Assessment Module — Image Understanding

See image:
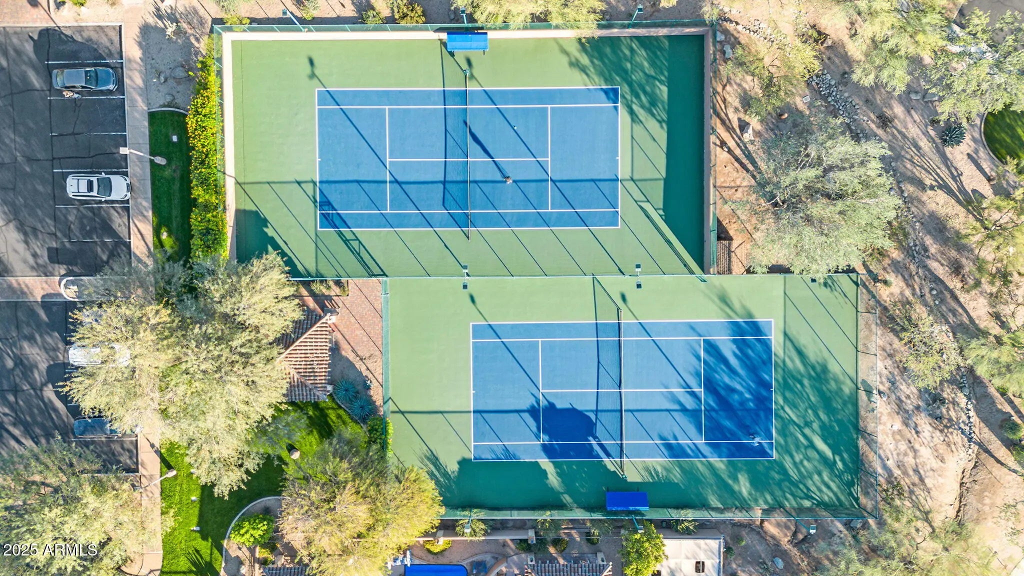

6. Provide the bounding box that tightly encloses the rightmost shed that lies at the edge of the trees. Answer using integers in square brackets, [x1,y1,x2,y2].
[715,239,746,273]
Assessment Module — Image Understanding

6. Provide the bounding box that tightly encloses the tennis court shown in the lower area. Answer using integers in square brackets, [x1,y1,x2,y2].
[389,274,860,510]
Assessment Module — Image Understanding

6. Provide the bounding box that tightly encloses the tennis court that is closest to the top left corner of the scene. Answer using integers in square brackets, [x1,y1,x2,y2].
[233,37,705,277]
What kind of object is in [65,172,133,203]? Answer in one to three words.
car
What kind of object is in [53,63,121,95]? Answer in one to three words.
car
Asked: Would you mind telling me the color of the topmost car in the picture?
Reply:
blue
